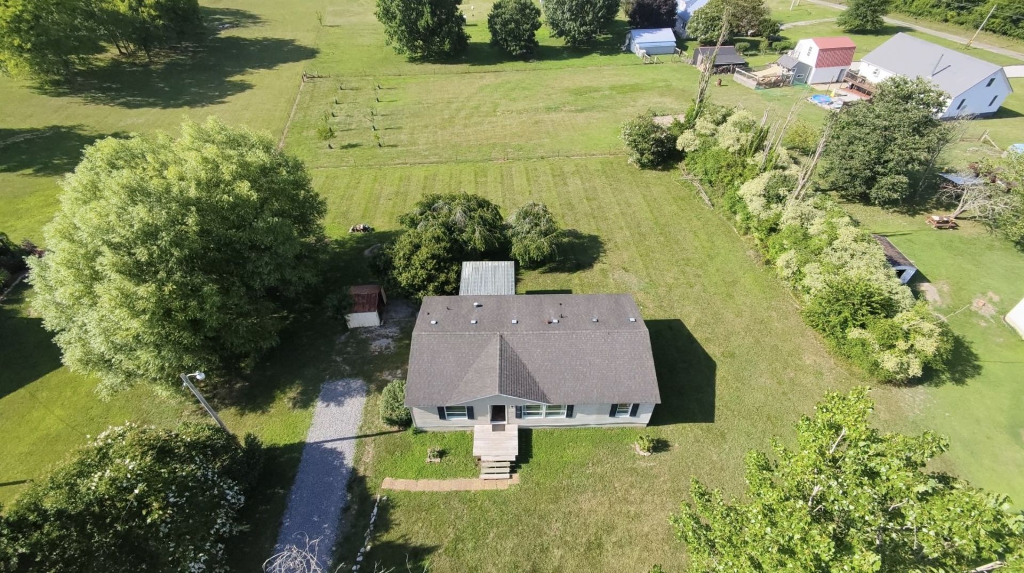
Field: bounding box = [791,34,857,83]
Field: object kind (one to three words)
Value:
barn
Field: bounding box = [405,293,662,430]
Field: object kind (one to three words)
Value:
house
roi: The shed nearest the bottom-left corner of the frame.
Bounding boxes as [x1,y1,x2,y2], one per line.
[344,288,391,327]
